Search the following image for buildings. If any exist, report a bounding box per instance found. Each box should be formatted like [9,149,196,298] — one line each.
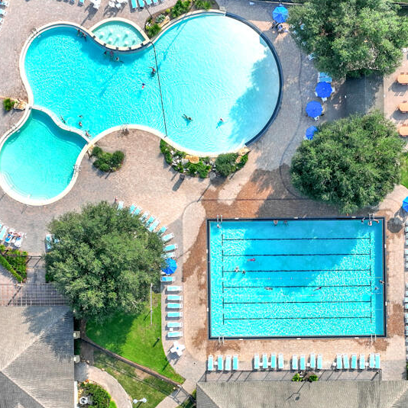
[197,381,408,408]
[0,309,78,408]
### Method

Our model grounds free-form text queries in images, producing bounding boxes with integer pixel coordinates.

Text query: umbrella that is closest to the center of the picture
[161,258,177,274]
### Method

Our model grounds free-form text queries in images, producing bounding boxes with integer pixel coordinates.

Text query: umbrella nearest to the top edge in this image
[272,6,288,23]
